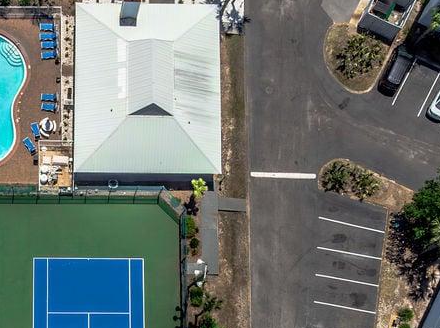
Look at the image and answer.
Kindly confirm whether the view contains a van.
Yes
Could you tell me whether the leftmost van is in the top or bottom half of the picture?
top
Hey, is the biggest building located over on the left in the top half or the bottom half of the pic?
top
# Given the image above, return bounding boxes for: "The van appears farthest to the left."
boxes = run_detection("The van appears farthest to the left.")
[377,50,413,97]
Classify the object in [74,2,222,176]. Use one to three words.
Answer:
building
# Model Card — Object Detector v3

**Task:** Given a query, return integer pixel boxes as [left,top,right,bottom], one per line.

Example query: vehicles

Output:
[377,50,413,97]
[427,84,440,120]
